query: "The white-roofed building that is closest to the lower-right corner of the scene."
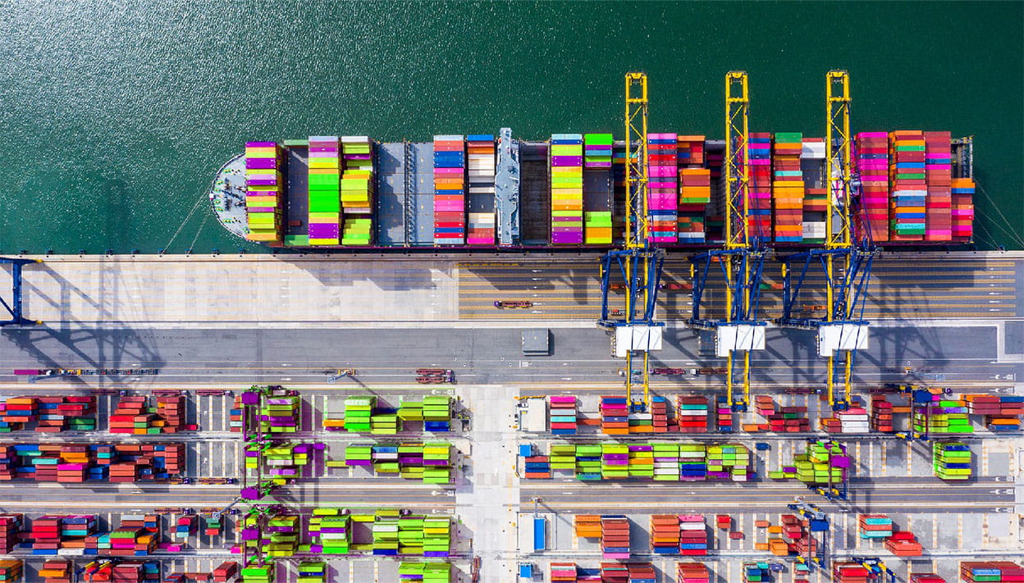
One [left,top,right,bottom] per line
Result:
[519,398,546,431]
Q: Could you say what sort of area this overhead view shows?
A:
port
